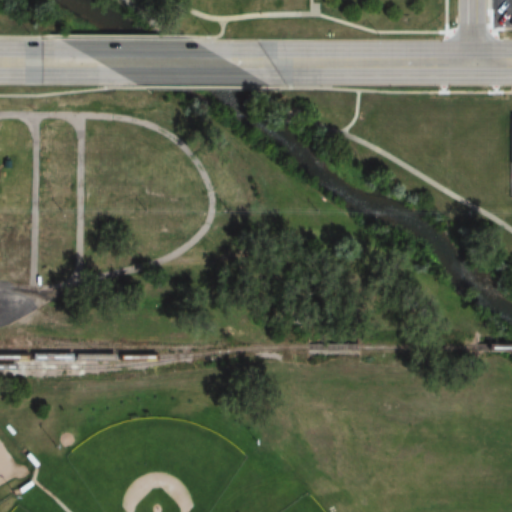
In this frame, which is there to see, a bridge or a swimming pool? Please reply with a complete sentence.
Visible in the photo is a bridge.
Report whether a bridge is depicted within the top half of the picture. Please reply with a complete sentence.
Yes, there is a bridge within the top half of the picture.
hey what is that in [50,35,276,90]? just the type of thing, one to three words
bridge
